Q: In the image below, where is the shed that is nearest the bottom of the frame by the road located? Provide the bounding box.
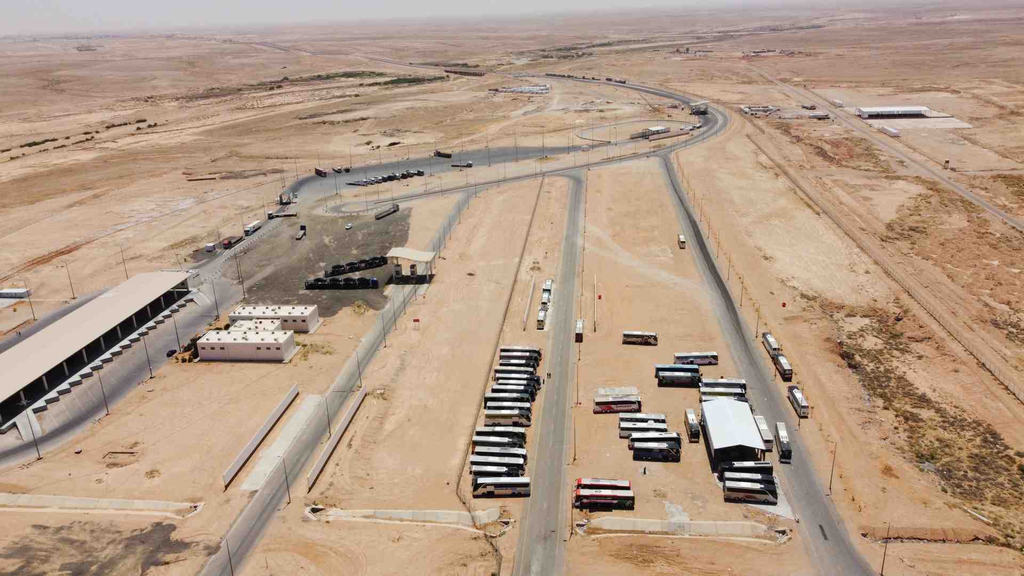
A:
[699,398,769,472]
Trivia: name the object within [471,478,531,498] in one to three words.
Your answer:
bus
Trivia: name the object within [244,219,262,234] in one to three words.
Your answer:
vehicle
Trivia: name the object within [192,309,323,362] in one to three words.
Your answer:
building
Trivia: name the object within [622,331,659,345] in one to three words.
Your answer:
vehicle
